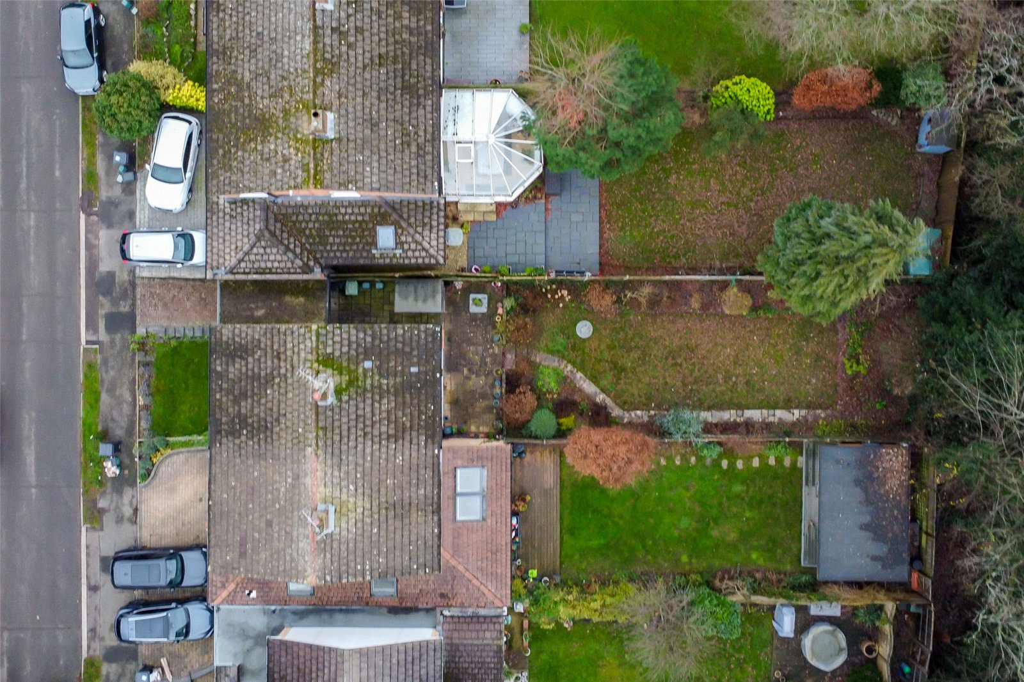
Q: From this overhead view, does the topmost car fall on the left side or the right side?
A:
left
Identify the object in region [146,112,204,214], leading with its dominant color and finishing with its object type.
white car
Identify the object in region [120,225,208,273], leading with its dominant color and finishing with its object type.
white car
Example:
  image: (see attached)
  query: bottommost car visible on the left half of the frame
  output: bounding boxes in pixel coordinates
[115,594,215,649]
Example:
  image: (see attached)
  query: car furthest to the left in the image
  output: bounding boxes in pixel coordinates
[55,1,108,98]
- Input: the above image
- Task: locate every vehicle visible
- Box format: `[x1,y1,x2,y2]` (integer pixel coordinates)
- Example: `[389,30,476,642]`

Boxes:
[115,594,215,649]
[120,225,208,273]
[55,1,108,98]
[110,543,208,595]
[146,112,204,214]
